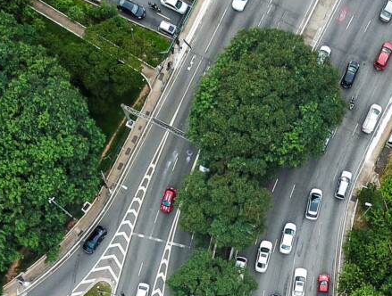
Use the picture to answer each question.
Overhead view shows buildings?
No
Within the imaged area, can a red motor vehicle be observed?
Yes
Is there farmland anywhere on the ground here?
No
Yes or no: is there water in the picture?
No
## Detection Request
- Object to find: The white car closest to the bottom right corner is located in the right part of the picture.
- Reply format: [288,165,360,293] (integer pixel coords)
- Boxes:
[292,269,307,296]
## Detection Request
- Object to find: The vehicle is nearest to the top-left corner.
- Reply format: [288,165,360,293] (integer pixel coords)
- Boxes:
[116,0,146,20]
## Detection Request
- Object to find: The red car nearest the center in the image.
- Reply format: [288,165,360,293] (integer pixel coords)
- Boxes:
[159,184,178,214]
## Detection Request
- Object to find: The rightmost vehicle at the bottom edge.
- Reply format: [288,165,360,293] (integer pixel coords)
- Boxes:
[317,273,331,296]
